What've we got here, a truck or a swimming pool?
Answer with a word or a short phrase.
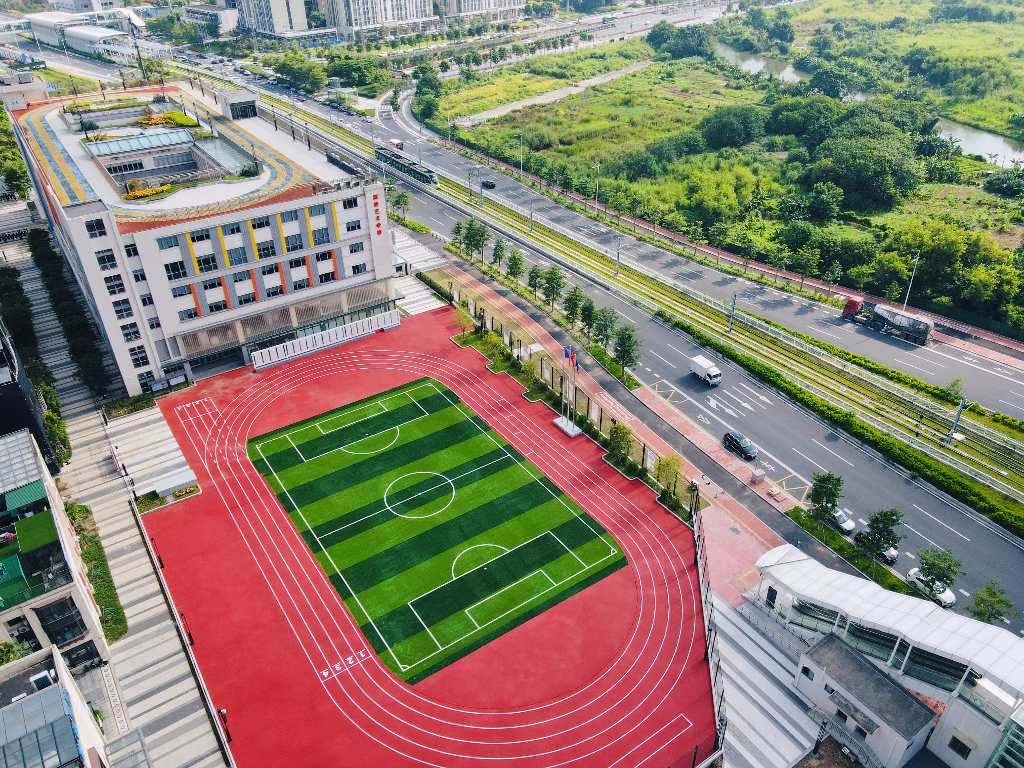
truck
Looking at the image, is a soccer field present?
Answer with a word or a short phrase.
Yes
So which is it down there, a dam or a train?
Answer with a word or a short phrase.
train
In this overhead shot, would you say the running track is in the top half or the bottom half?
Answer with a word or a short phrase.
bottom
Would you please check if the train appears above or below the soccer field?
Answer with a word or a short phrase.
above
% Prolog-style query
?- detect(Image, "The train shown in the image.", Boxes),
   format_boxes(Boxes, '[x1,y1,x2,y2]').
[369,145,439,188]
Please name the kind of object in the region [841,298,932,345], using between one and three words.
truck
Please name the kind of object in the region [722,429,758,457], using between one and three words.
car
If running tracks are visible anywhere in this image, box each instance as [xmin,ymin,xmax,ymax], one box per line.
[140,304,720,768]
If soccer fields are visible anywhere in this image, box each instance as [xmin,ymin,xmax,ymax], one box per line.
[248,377,634,689]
